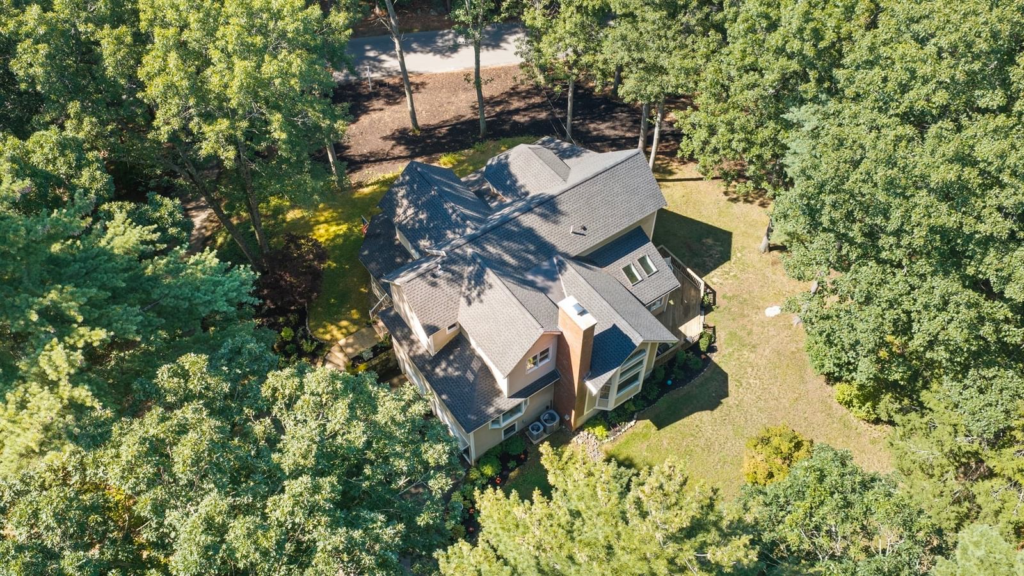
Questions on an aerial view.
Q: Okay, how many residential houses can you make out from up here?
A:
1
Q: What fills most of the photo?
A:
trees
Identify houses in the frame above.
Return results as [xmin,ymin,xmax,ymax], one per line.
[359,136,681,463]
